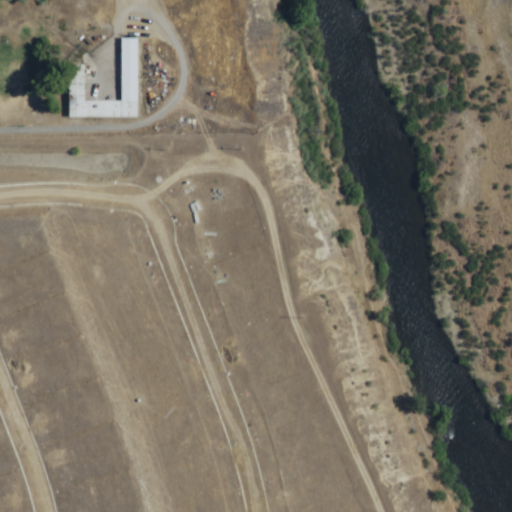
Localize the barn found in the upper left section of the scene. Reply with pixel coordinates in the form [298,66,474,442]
[69,37,138,118]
